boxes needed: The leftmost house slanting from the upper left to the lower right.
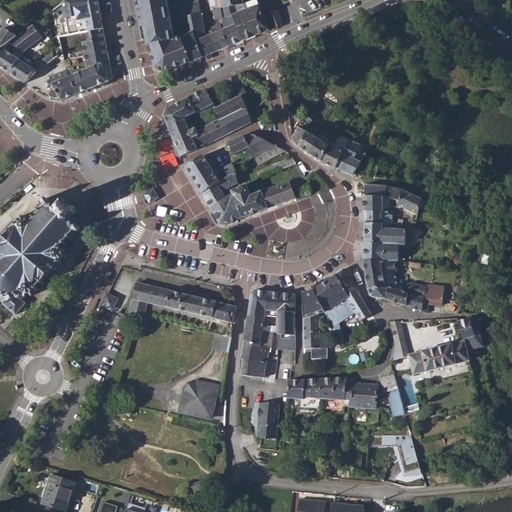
[0,44,35,82]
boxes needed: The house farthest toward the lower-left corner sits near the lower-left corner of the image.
[38,474,74,512]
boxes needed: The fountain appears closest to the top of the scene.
[277,212,300,228]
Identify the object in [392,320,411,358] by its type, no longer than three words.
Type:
shed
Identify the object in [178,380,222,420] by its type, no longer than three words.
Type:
barn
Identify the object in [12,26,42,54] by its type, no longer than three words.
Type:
house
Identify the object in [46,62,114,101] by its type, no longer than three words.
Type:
building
